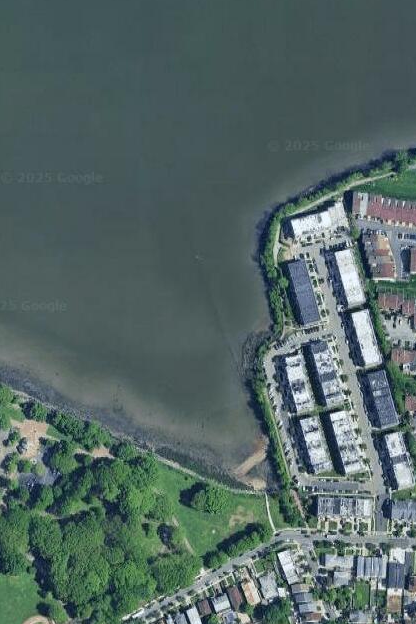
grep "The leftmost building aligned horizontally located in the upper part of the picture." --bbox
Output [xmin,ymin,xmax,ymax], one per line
[291,203,351,240]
